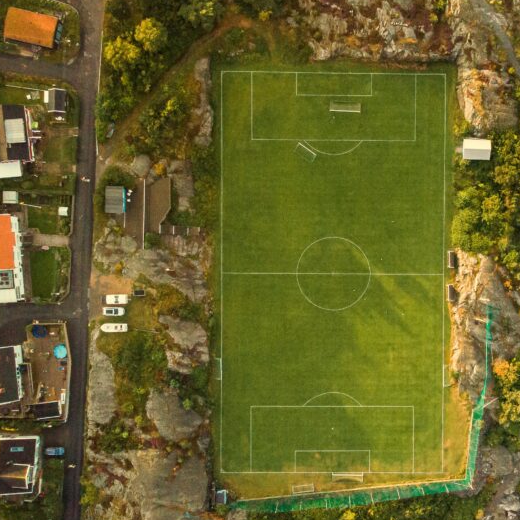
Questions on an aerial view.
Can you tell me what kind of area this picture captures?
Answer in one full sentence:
The area seen from above is a sports ground.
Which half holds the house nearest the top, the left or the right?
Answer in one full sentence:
The house nearest the top appears in the left half of the scene.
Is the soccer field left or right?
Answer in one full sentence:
The soccer field is on the right side of the image.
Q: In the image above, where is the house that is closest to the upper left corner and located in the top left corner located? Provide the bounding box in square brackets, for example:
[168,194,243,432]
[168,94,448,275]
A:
[2,7,66,49]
